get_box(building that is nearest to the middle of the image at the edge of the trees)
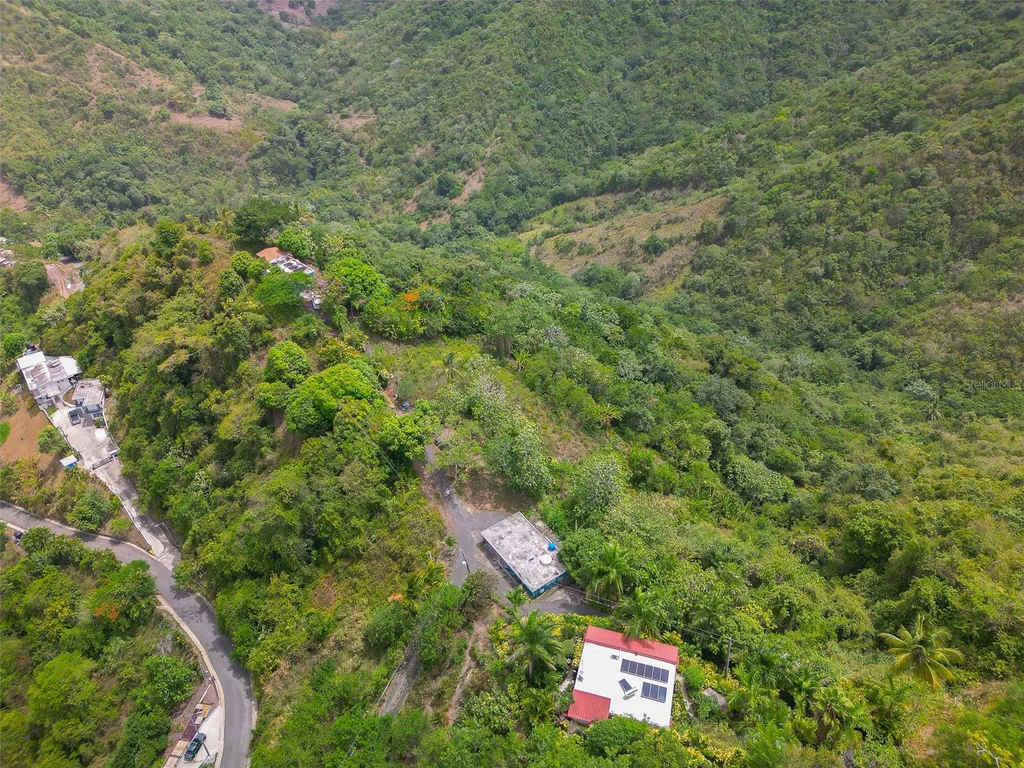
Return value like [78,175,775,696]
[479,512,566,595]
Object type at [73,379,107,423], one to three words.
house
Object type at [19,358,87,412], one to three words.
house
